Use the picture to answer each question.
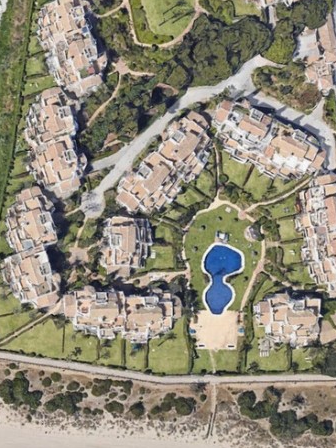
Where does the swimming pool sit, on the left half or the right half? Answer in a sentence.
The swimming pool is on the right side of the image.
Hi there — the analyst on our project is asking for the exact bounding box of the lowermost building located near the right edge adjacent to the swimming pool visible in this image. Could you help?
[253,294,325,343]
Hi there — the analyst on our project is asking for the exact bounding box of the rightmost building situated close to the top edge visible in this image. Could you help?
[302,21,336,92]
